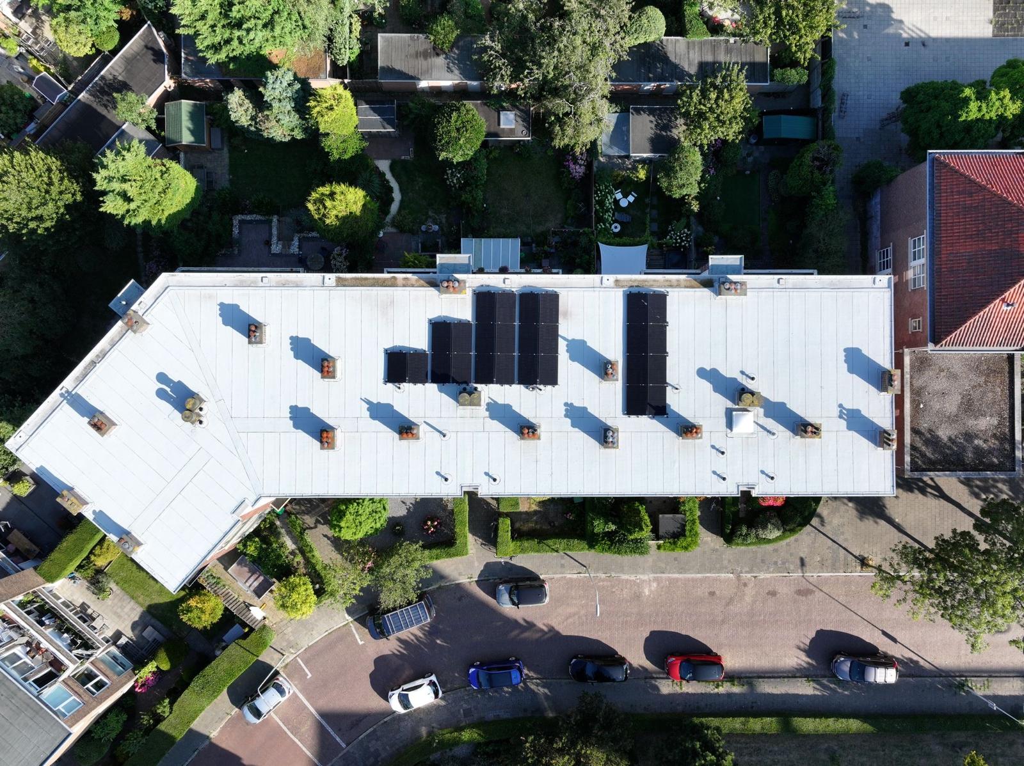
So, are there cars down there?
Yes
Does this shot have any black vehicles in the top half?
No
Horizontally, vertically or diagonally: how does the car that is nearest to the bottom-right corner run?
horizontally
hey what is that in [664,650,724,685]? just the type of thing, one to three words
car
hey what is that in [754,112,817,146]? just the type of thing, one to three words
shed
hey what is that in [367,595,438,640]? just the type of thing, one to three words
van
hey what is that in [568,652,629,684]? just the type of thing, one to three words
car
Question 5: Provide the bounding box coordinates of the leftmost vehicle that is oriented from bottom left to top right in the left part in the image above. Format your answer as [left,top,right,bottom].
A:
[240,672,297,726]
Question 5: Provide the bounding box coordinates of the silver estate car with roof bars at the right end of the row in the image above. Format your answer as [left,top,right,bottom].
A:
[829,651,899,686]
